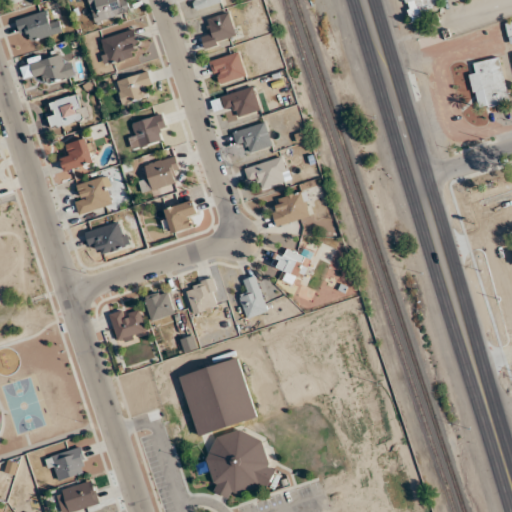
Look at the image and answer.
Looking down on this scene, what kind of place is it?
residential area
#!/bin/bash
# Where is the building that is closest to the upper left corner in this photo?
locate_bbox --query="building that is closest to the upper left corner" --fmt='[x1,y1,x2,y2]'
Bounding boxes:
[16,12,62,40]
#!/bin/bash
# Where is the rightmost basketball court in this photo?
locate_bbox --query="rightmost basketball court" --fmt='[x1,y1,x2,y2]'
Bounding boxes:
[2,378,46,434]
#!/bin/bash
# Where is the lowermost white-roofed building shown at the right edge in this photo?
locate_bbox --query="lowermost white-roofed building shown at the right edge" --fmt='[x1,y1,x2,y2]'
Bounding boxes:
[467,62,508,109]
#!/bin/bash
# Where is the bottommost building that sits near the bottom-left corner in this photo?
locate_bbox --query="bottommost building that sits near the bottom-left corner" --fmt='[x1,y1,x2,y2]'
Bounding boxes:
[56,481,99,512]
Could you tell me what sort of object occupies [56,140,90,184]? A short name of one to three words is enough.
house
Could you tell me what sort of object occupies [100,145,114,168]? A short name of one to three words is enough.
swimming pool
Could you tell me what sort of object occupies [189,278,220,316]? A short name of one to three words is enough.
house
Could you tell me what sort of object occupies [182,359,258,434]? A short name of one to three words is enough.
building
